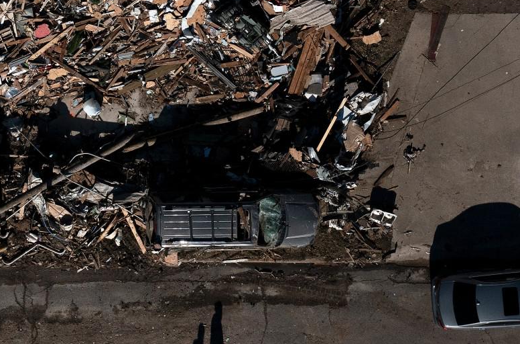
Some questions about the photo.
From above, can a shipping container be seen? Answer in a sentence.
No, I can see no shipping container in this picture.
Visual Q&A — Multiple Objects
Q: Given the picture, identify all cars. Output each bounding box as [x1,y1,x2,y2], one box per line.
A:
[155,185,318,251]
[427,260,520,326]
